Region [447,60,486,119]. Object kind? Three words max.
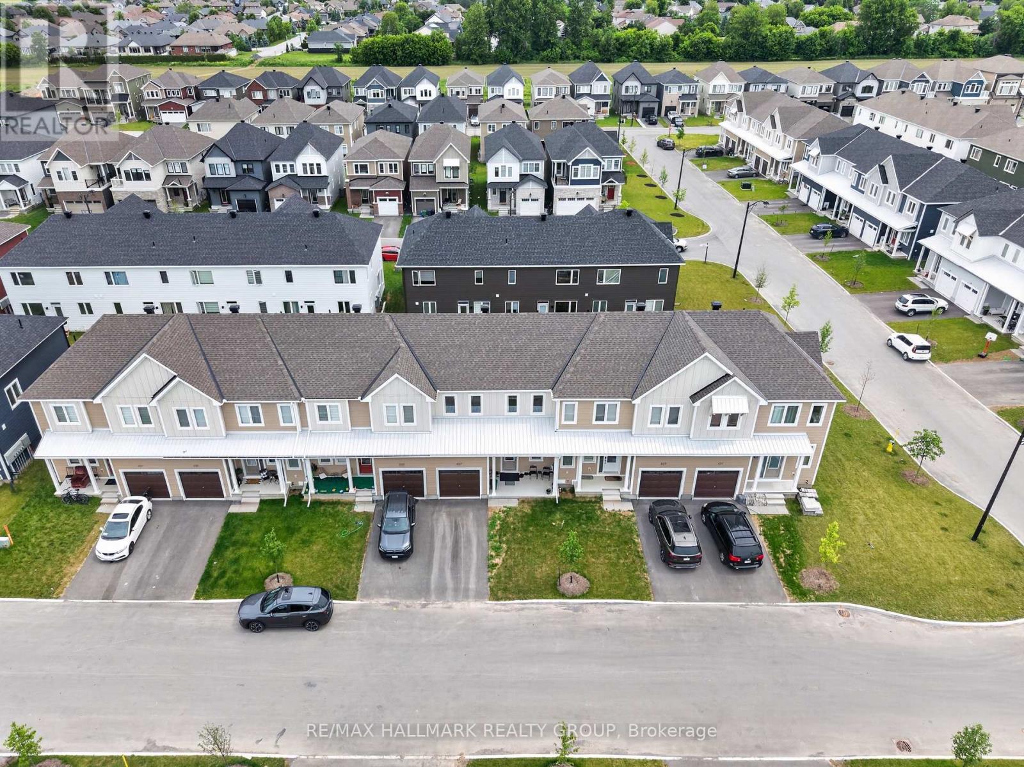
house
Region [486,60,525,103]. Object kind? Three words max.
house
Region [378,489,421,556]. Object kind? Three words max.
car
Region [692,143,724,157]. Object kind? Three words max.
car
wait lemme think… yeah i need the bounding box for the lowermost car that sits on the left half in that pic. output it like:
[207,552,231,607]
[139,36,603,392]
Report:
[237,583,338,632]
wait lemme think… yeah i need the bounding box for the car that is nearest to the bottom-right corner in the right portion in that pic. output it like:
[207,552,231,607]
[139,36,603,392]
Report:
[701,501,766,571]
